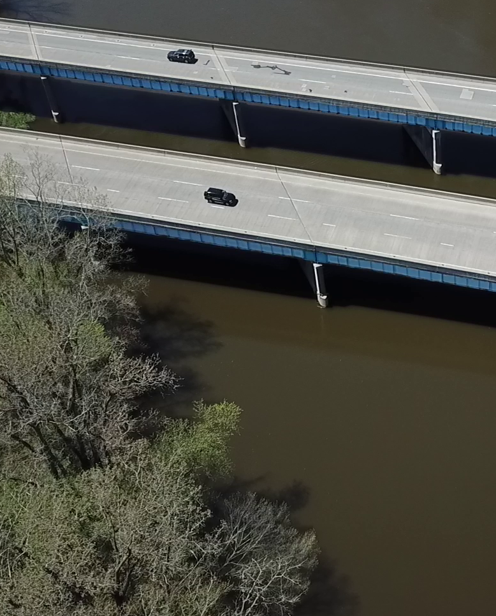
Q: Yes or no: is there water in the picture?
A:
Yes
